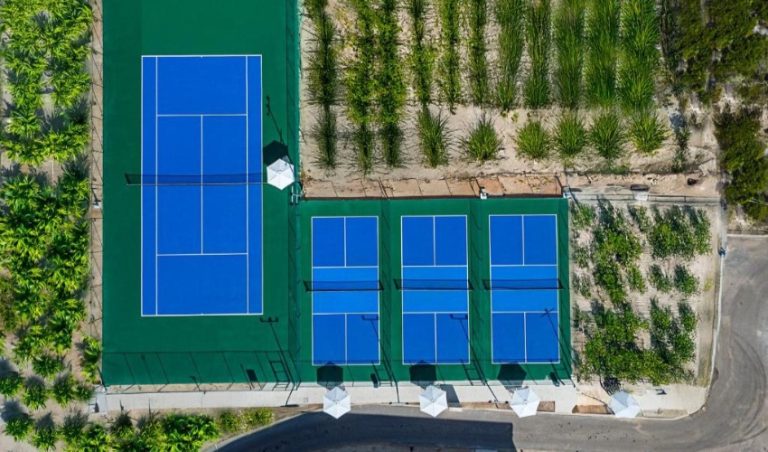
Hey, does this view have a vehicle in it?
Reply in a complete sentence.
No, no vehicle is visible in the scene.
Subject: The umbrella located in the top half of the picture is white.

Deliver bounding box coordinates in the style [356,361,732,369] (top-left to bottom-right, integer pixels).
[267,157,295,189]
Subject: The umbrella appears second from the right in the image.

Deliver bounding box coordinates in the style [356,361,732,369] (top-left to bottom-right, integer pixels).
[508,387,539,417]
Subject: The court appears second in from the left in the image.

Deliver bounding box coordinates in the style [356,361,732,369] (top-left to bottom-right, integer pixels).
[301,199,392,382]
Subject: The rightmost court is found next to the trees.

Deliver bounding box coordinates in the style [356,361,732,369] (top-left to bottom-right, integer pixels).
[480,199,572,382]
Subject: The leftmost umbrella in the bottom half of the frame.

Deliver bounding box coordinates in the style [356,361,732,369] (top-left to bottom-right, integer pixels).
[322,386,350,418]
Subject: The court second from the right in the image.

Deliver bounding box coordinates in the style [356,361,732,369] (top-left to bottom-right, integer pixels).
[391,199,483,382]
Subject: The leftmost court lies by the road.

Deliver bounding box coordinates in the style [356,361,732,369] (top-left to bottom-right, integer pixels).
[103,0,300,385]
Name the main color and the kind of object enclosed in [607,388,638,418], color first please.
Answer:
white umbrella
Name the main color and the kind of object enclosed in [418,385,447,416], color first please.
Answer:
white umbrella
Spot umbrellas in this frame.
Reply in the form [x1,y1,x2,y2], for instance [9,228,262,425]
[322,386,350,418]
[607,388,638,418]
[267,157,295,189]
[418,385,447,416]
[508,387,539,417]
